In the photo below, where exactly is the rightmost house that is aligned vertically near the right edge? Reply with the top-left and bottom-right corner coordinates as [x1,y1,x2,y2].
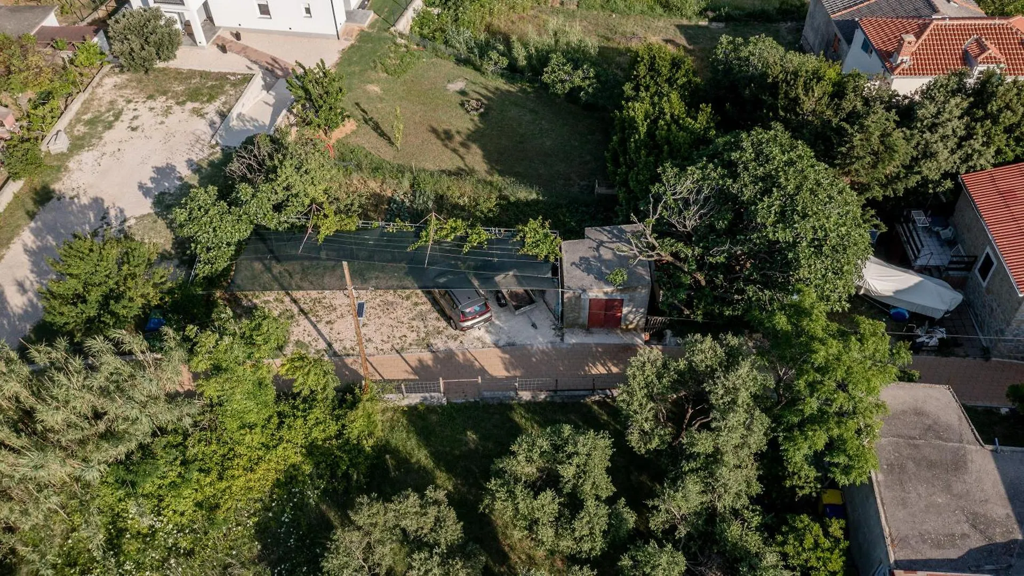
[951,169,1024,343]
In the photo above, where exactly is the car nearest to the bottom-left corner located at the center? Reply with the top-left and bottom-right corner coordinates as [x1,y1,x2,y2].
[430,290,488,325]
